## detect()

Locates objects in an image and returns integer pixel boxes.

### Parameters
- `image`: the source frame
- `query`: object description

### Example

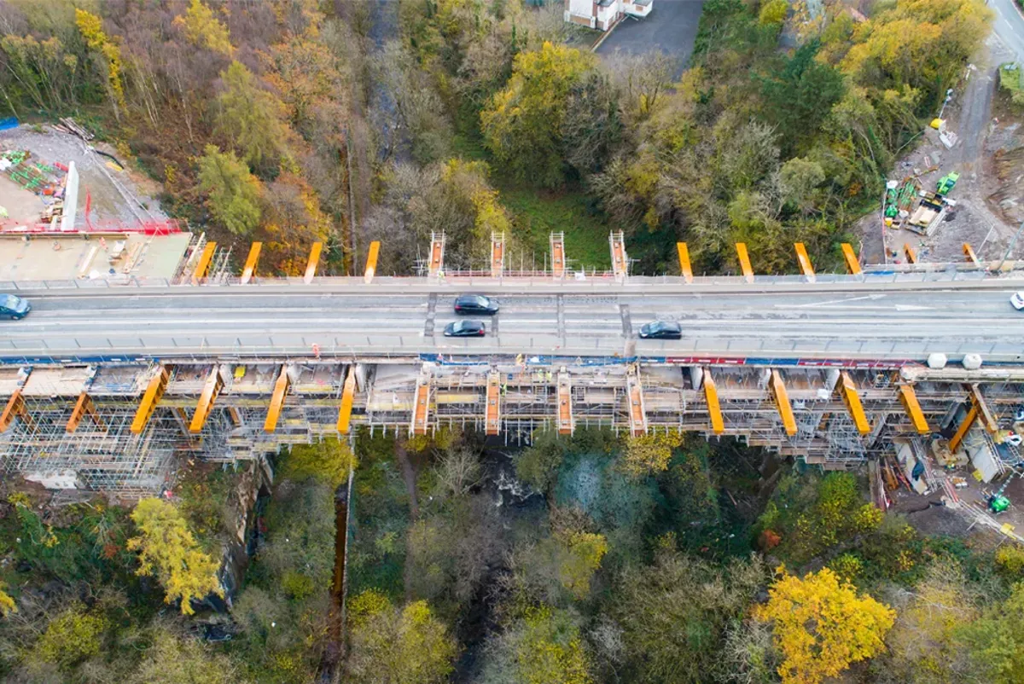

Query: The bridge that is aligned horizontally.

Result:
[0,282,1024,453]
